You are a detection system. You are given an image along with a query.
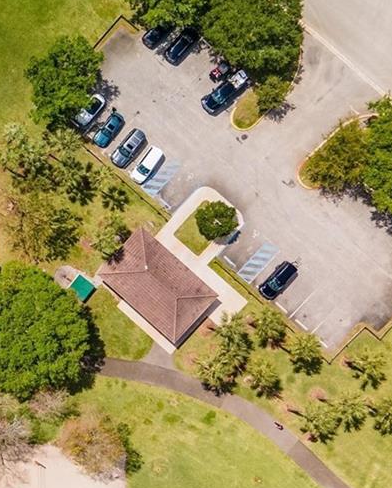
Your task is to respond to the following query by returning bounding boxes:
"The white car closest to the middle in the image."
[129,145,166,185]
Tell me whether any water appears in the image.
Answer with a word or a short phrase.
No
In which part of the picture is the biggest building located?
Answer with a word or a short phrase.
center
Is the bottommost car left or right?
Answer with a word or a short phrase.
right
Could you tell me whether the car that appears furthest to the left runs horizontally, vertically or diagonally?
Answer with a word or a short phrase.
diagonally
